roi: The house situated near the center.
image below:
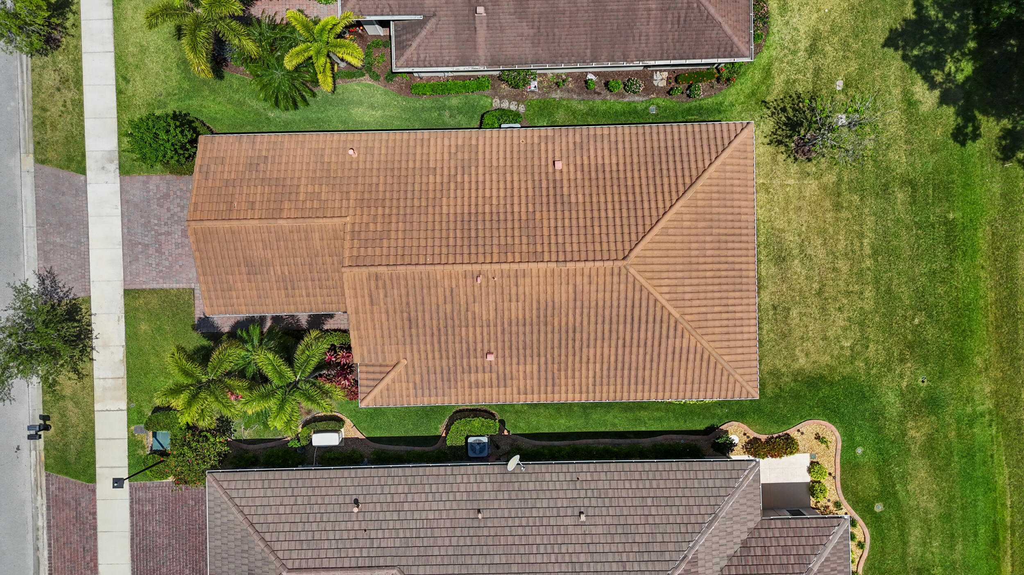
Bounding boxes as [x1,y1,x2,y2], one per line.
[186,121,761,409]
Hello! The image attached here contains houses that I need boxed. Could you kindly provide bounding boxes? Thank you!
[206,461,851,575]
[186,121,761,409]
[338,0,753,80]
